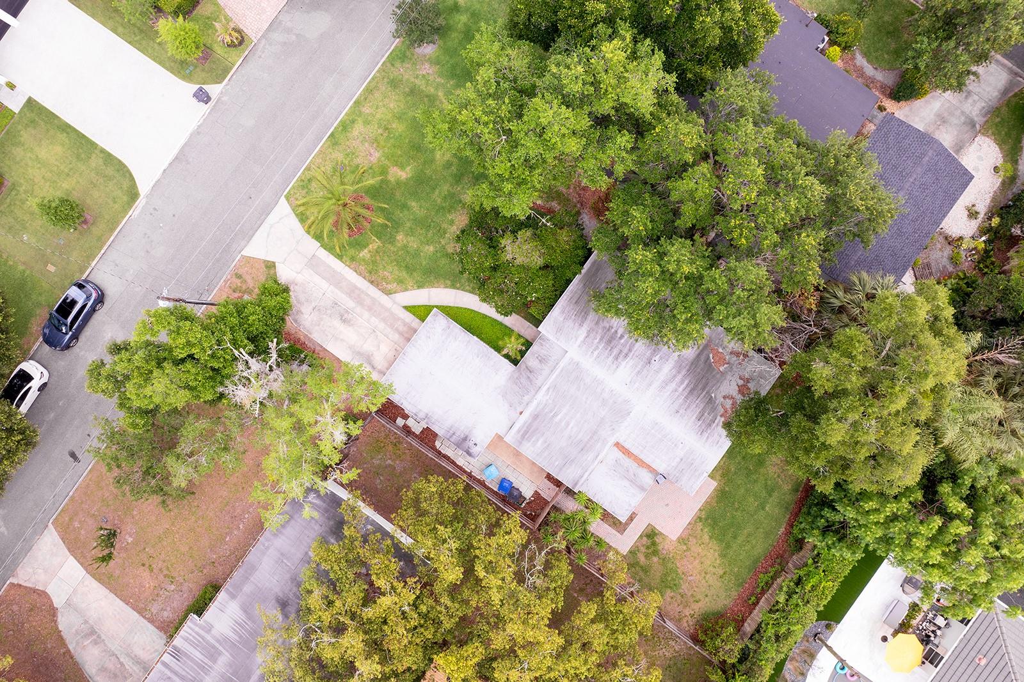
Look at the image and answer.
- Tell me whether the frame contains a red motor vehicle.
No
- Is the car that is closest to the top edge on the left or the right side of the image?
left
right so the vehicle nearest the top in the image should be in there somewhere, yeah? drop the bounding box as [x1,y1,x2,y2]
[39,282,106,356]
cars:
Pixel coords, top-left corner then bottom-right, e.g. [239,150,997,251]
[39,282,106,356]
[0,364,49,435]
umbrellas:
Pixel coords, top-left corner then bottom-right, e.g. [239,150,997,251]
[879,632,925,674]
